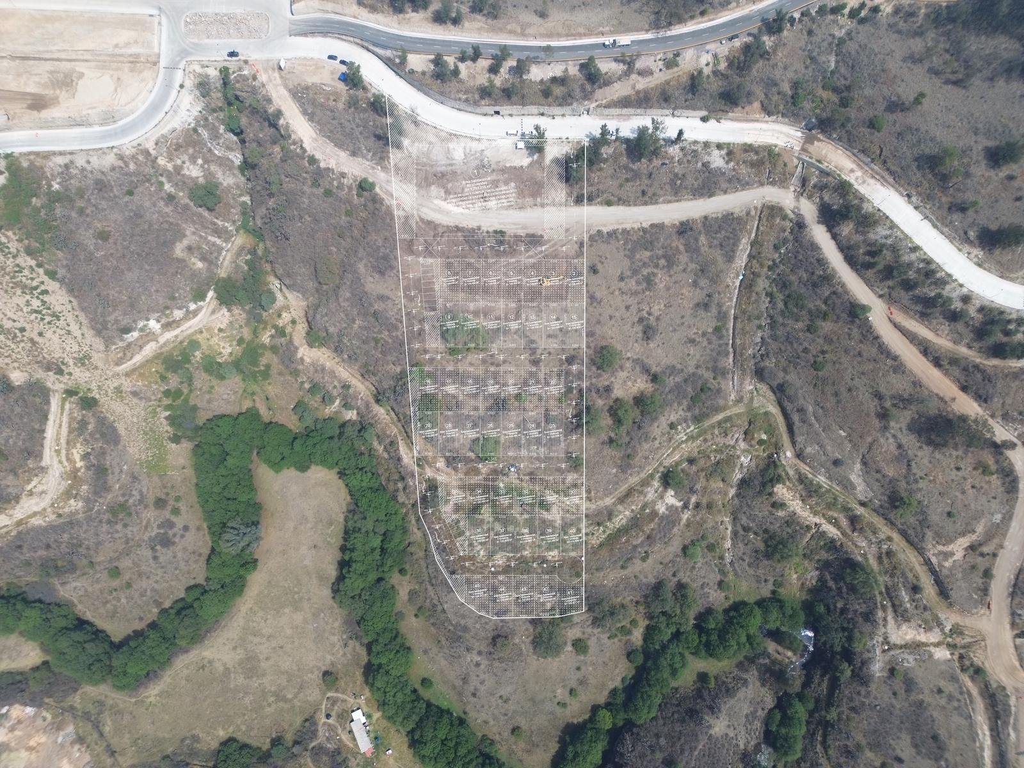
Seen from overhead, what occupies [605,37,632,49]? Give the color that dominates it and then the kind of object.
white vehicle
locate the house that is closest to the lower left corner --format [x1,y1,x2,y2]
[345,706,377,753]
